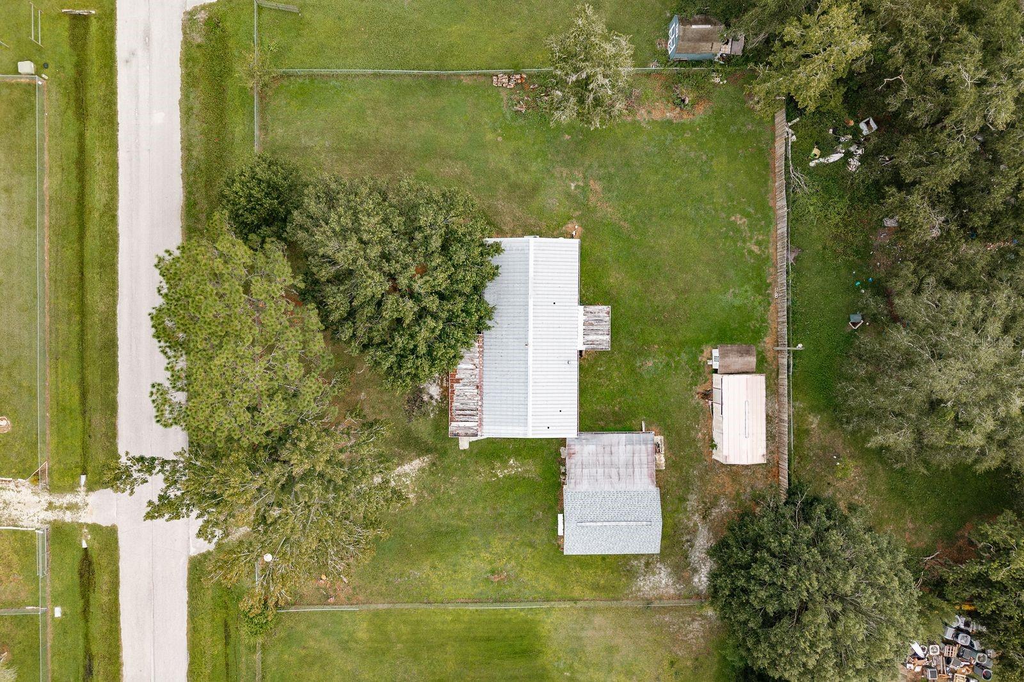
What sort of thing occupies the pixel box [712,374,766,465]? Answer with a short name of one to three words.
building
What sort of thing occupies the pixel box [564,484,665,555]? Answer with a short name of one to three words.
building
